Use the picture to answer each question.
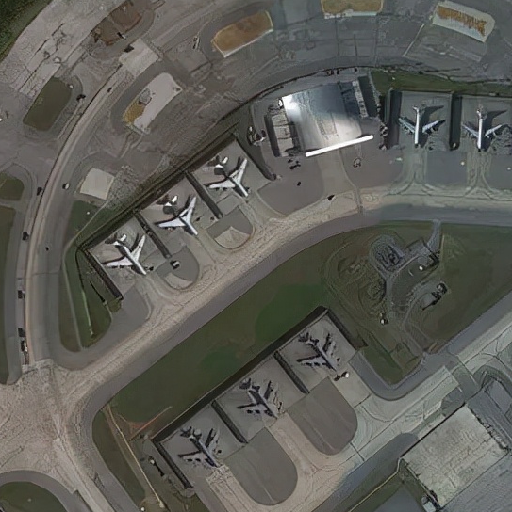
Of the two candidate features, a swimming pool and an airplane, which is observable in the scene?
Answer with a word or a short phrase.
airplane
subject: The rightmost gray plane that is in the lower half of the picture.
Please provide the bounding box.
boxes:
[298,332,337,371]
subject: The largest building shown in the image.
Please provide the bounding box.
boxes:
[280,83,372,156]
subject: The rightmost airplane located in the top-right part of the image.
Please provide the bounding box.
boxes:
[460,110,500,150]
